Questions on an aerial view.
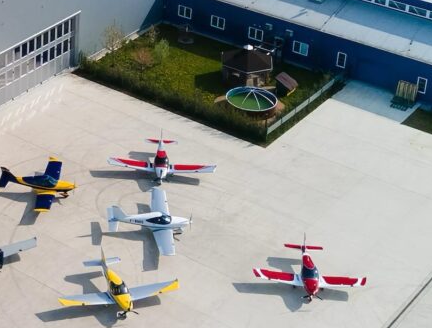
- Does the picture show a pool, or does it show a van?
pool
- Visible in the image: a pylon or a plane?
plane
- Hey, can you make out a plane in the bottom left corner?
Yes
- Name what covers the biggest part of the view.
paved ground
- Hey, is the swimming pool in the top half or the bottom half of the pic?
top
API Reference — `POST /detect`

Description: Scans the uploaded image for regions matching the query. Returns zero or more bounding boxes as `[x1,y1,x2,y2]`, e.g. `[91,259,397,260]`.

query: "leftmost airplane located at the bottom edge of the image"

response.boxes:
[58,243,177,317]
